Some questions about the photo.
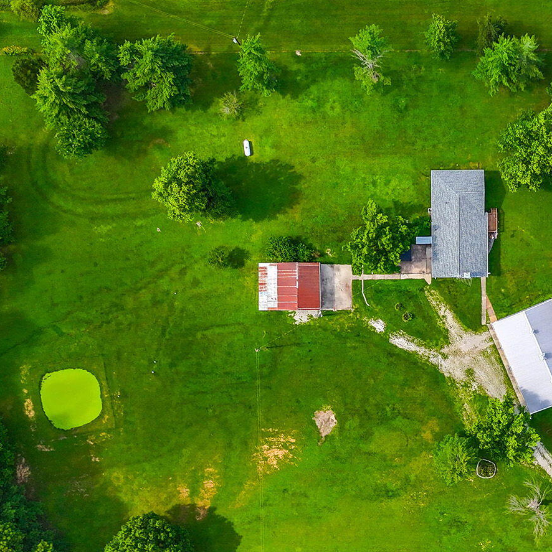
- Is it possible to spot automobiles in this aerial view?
No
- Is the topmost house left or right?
right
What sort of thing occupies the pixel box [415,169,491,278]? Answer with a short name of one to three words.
house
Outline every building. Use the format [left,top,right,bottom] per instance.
[415,169,491,278]
[491,299,552,413]
[259,263,321,310]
